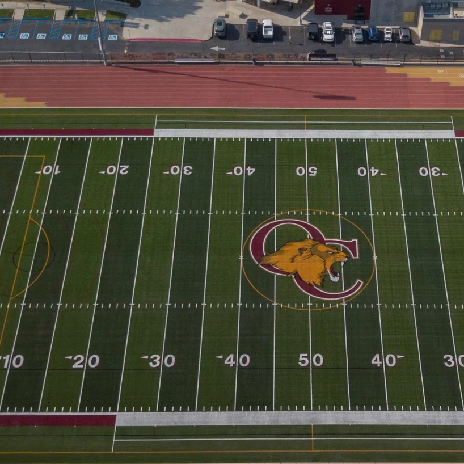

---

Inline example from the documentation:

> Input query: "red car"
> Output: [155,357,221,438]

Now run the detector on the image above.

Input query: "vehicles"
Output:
[352,18,365,41]
[262,17,275,37]
[398,22,412,40]
[246,19,259,39]
[322,18,335,41]
[382,23,395,40]
[306,22,320,39]
[213,17,227,36]
[366,22,380,41]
